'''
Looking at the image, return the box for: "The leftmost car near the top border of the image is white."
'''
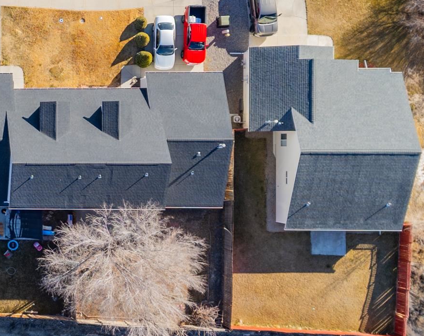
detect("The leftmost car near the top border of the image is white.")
[151,16,177,69]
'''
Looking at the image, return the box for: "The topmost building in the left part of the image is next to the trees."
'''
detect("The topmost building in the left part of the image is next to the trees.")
[0,71,235,210]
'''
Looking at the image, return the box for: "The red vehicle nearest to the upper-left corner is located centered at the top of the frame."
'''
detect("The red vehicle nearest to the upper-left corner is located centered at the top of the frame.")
[180,5,207,64]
